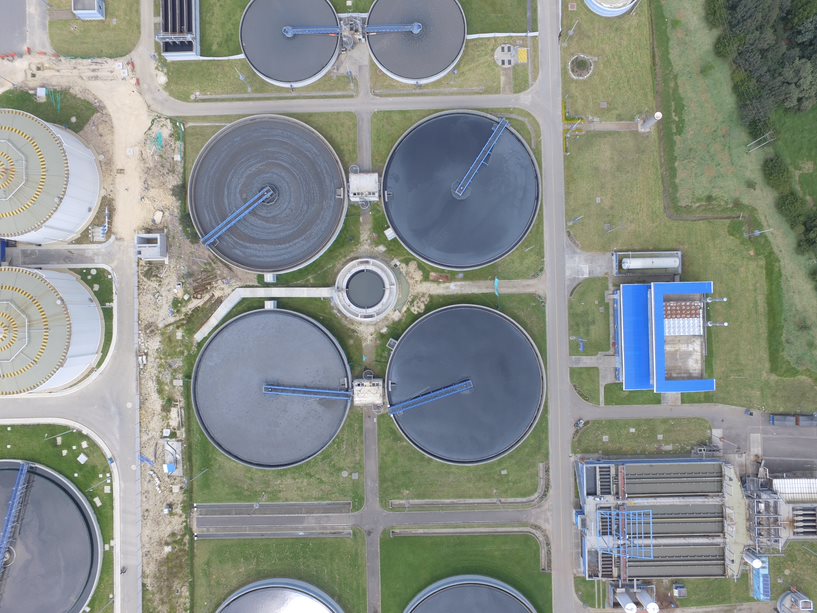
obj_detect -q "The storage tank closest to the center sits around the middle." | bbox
[335,259,397,320]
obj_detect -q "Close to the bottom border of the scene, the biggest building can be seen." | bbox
[751,552,772,602]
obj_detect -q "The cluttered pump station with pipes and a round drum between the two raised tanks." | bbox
[340,15,369,54]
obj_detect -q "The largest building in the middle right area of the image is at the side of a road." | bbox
[609,281,716,393]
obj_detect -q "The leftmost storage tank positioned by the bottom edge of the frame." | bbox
[0,460,105,613]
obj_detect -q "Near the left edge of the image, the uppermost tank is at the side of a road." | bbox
[0,107,104,246]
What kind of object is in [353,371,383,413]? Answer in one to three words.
building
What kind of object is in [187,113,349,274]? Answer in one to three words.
storage tank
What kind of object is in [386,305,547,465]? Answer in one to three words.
storage tank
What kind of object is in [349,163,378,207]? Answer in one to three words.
building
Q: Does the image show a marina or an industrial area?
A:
industrial area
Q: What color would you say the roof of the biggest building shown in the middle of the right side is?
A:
blue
